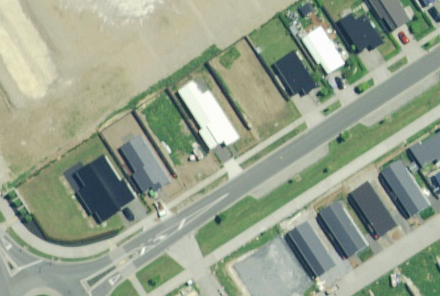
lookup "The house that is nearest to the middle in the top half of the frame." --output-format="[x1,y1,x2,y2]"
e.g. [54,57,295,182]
[178,80,240,152]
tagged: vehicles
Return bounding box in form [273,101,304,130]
[335,75,344,90]
[398,30,410,45]
[155,202,165,218]
[123,206,135,222]
[429,6,440,22]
